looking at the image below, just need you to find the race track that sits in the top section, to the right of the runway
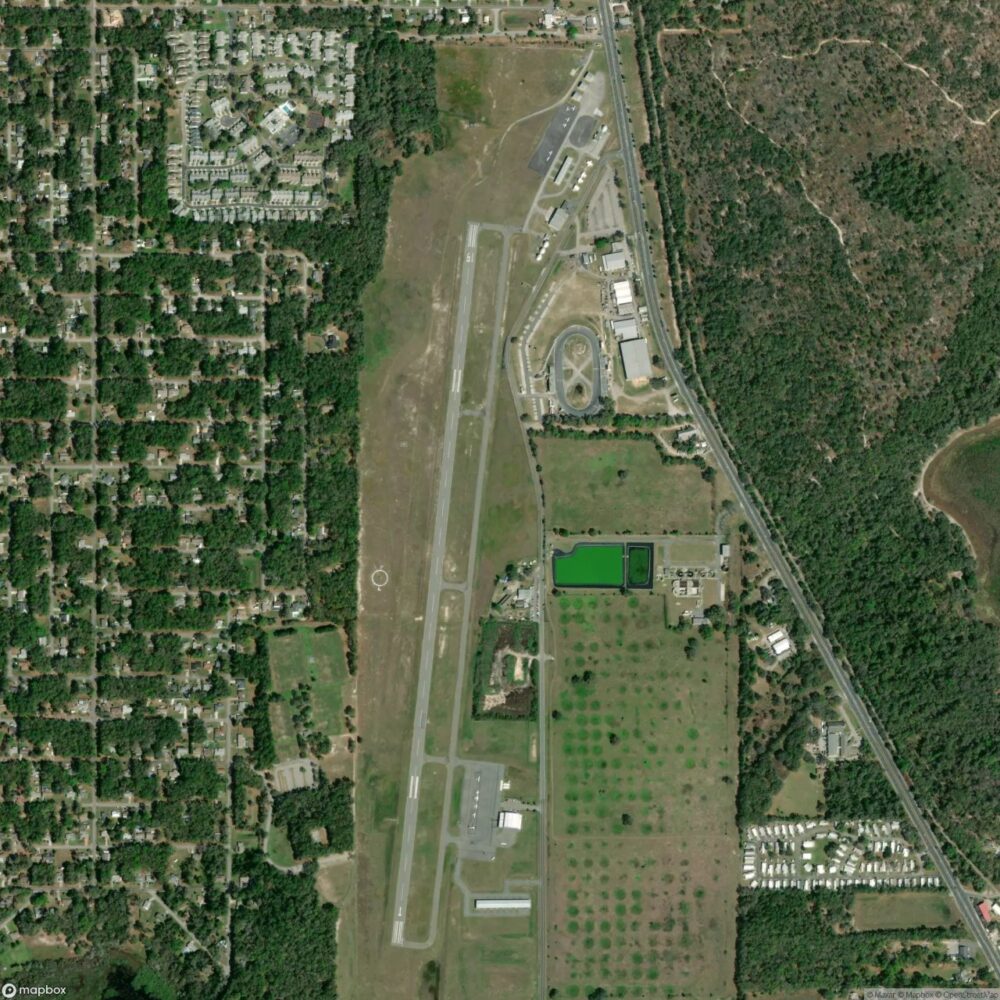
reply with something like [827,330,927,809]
[554,324,602,416]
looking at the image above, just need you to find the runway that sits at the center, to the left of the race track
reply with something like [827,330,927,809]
[392,223,479,945]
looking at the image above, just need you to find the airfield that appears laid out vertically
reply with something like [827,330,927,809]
[392,47,611,946]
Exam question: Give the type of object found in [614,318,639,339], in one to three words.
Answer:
building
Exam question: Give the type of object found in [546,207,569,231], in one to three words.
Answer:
hangar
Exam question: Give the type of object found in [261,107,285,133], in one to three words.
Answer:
building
